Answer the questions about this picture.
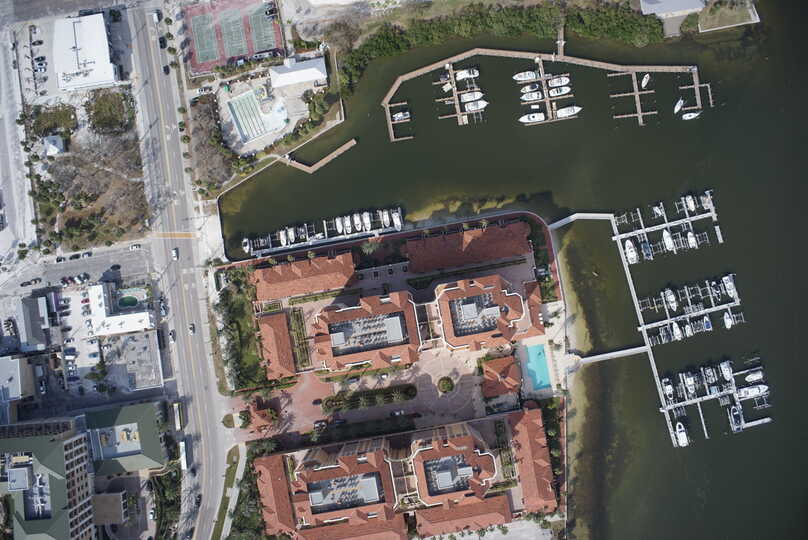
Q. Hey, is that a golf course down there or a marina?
marina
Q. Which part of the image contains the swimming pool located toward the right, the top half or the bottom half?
bottom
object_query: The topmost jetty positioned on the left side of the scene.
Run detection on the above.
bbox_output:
[275,138,357,174]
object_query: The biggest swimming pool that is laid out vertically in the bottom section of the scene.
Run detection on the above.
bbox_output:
[526,343,552,392]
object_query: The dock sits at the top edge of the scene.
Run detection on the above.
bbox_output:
[379,12,713,141]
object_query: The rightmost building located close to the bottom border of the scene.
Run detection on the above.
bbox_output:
[507,407,558,513]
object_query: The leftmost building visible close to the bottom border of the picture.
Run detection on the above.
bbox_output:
[0,415,110,540]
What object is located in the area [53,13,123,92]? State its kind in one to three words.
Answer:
building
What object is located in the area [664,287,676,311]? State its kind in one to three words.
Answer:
boat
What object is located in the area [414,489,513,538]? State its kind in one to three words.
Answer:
building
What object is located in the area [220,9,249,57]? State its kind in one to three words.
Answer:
tennis court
